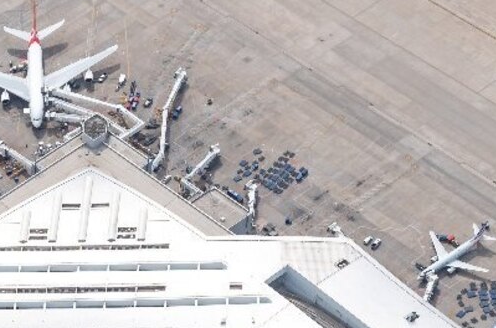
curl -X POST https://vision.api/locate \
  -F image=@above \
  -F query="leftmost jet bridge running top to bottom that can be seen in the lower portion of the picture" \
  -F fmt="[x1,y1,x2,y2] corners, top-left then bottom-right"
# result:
[243,183,258,231]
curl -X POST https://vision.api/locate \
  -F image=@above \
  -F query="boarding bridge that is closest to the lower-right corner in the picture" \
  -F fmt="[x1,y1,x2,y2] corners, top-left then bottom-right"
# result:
[423,273,437,299]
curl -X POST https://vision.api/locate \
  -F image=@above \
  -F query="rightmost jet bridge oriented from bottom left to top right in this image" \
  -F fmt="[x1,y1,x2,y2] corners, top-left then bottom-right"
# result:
[183,146,218,198]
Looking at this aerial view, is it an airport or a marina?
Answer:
airport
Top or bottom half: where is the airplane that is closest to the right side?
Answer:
bottom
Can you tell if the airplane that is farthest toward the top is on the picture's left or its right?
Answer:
left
